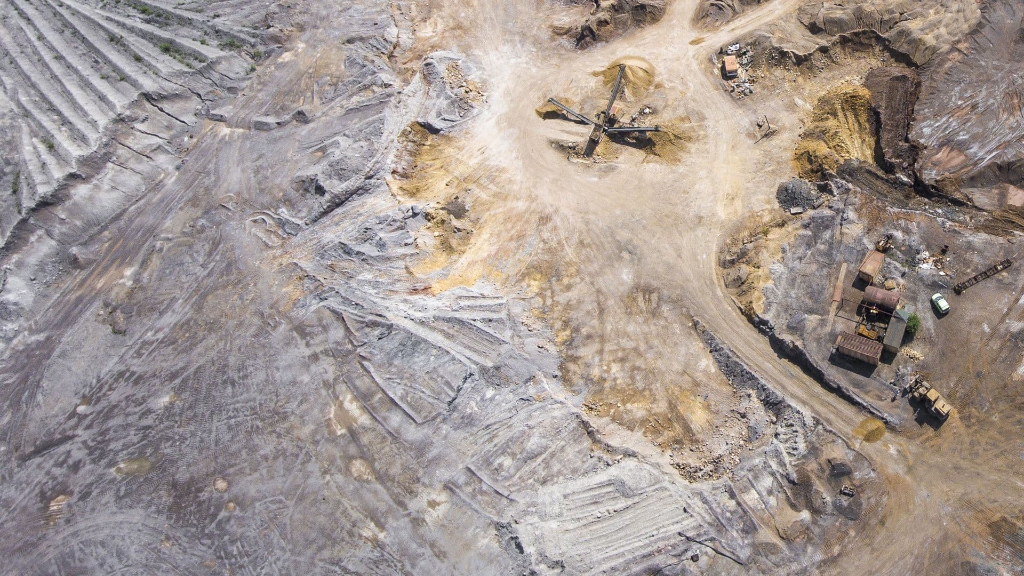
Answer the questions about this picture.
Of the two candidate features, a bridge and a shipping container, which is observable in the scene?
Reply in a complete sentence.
Of the two, only a shipping container appears.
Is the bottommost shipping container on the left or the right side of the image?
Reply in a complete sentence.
The bottommost shipping container is on the right side of the image.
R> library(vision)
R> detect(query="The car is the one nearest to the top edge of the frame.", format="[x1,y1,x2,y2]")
[931,294,950,318]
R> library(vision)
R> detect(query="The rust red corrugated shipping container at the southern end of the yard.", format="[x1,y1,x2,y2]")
[839,334,883,366]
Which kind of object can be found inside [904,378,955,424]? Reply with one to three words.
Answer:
work vehicle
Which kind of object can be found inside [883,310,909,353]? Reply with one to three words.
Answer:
shed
